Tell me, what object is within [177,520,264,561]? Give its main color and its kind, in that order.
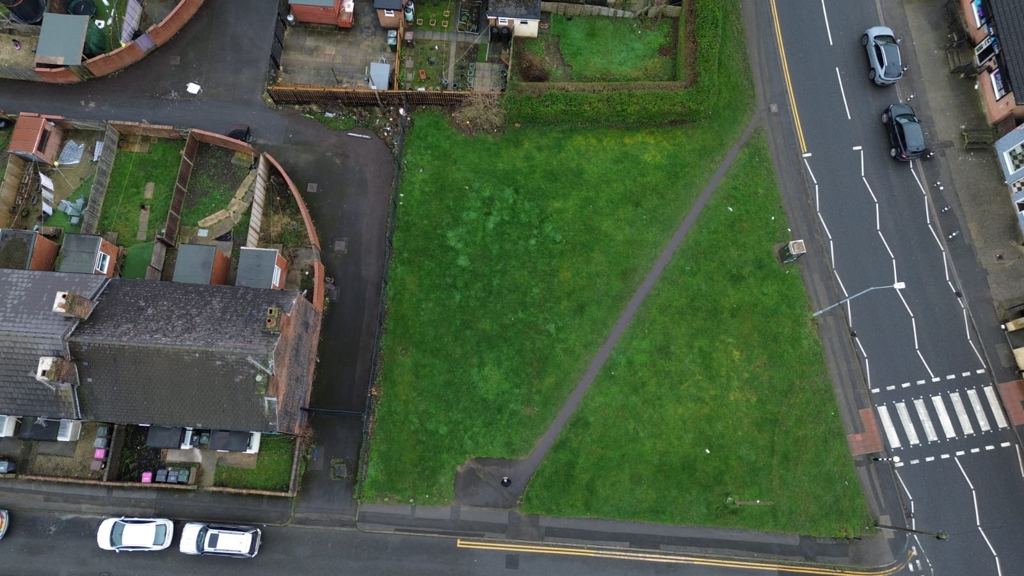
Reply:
white car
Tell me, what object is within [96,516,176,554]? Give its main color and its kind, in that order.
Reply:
white car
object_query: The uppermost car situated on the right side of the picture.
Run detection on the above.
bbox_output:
[861,28,903,86]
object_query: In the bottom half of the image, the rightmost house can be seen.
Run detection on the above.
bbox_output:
[69,244,321,451]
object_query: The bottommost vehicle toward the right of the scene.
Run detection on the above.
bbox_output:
[879,104,923,162]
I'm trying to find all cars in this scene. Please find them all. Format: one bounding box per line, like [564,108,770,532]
[96,516,176,554]
[861,28,903,86]
[177,520,264,561]
[0,509,14,543]
[879,104,923,162]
